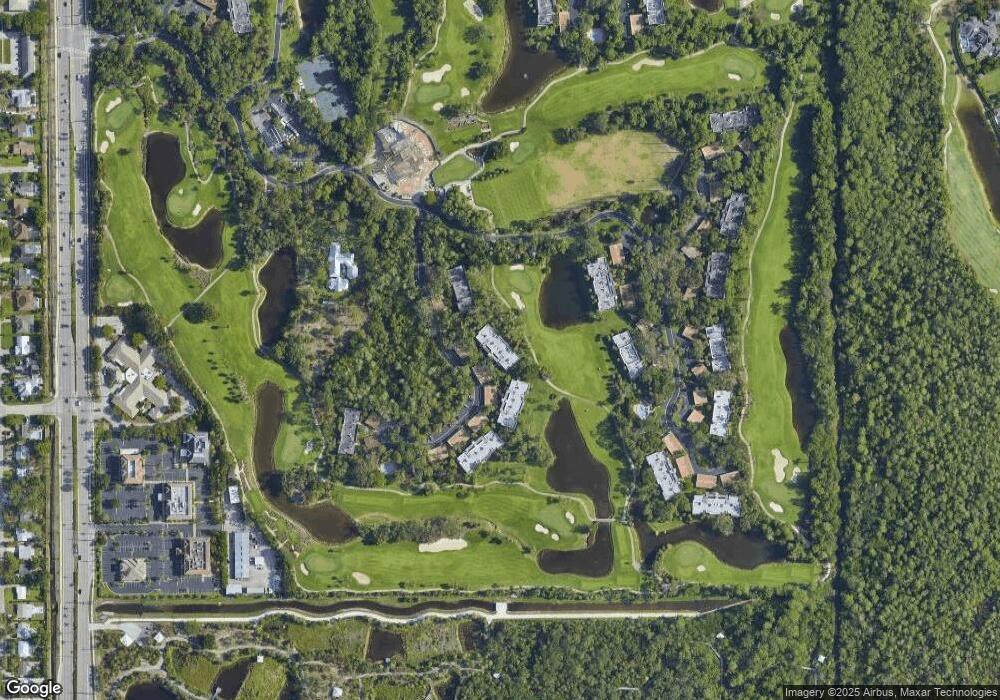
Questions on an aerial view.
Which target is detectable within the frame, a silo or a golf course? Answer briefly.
golf course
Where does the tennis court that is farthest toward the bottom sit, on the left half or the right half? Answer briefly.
left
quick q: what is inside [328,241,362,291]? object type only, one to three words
house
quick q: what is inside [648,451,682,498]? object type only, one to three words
building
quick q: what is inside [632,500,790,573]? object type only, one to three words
pond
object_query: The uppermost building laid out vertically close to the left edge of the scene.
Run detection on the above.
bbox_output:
[20,37,35,76]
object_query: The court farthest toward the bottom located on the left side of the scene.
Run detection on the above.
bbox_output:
[316,86,351,125]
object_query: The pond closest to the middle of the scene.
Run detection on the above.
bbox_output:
[540,252,594,329]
